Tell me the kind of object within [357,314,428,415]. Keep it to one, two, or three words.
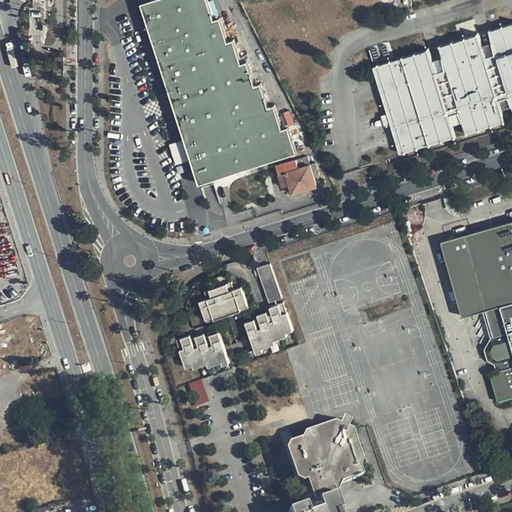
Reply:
sports court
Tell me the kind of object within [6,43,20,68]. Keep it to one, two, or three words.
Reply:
vehicle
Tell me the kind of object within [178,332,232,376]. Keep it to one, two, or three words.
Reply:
building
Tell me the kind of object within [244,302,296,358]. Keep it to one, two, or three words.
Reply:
building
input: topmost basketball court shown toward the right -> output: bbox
[335,262,400,308]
